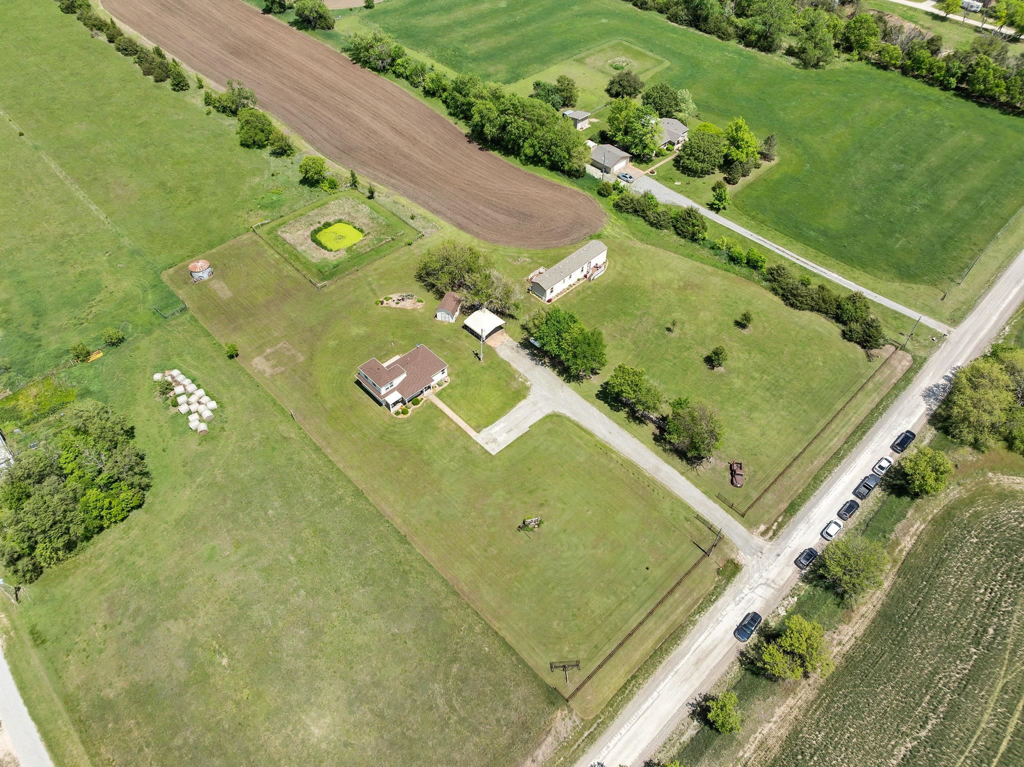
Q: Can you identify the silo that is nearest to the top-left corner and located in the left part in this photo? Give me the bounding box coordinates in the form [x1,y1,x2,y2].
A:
[189,262,212,281]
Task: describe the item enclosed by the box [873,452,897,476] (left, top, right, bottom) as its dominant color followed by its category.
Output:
white car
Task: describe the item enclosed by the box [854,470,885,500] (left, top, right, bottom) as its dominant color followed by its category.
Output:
gray truck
